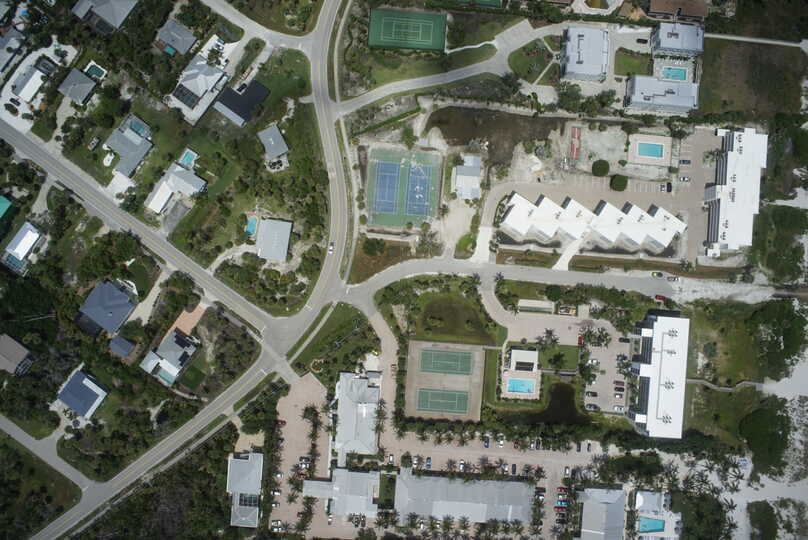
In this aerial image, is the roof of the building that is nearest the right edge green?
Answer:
No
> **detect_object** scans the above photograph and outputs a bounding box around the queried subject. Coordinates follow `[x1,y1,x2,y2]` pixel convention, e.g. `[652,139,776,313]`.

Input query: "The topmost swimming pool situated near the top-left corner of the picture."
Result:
[14,2,29,27]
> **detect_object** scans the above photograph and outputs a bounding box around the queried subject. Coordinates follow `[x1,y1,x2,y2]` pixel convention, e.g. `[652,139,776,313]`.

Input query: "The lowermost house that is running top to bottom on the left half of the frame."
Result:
[227,451,265,528]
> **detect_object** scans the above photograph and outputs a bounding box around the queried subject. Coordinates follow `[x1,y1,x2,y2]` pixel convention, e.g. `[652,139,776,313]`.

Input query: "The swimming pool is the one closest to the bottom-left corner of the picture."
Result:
[152,366,175,390]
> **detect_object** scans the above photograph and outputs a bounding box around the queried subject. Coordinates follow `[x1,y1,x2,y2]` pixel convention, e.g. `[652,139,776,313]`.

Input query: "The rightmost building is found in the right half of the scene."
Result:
[701,128,769,257]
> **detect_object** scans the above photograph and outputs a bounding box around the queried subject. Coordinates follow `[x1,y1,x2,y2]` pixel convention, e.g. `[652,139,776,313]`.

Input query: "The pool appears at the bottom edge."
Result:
[633,489,682,540]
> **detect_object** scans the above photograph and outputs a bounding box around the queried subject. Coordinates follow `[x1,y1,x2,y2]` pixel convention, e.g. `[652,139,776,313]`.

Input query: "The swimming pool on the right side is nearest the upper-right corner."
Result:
[655,57,699,83]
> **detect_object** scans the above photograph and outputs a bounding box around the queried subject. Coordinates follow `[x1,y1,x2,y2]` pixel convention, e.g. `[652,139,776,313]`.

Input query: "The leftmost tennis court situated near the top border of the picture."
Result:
[368,6,447,50]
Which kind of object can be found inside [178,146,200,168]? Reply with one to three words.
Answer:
swimming pool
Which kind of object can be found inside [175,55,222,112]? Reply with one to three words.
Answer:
house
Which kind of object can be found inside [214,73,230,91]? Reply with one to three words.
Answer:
camper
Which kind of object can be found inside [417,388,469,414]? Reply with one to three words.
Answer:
tennis court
